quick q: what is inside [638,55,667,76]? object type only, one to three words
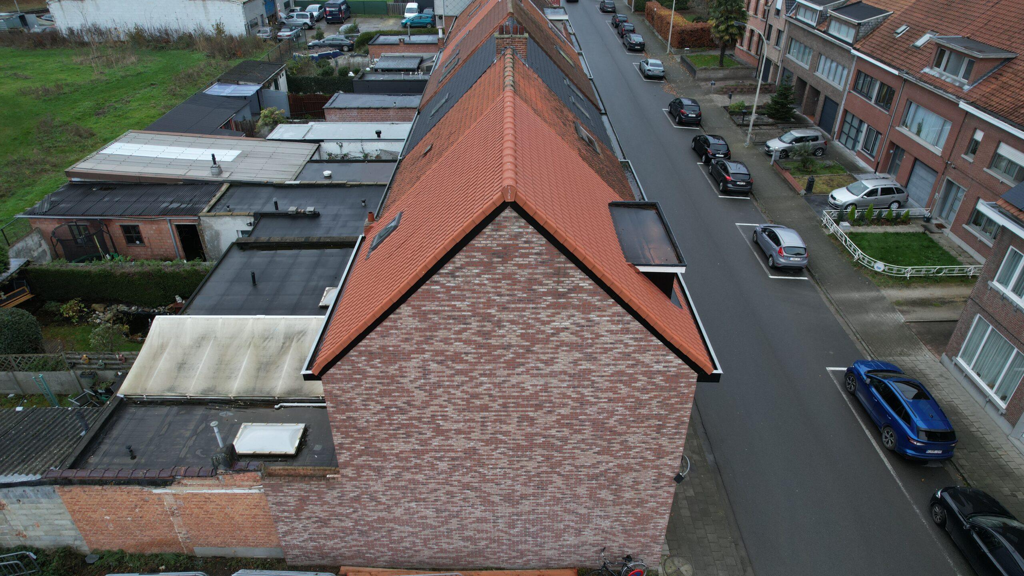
car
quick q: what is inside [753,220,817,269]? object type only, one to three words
car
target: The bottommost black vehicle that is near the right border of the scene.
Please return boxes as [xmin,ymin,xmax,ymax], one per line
[927,485,1024,576]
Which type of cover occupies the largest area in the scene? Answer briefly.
buildings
